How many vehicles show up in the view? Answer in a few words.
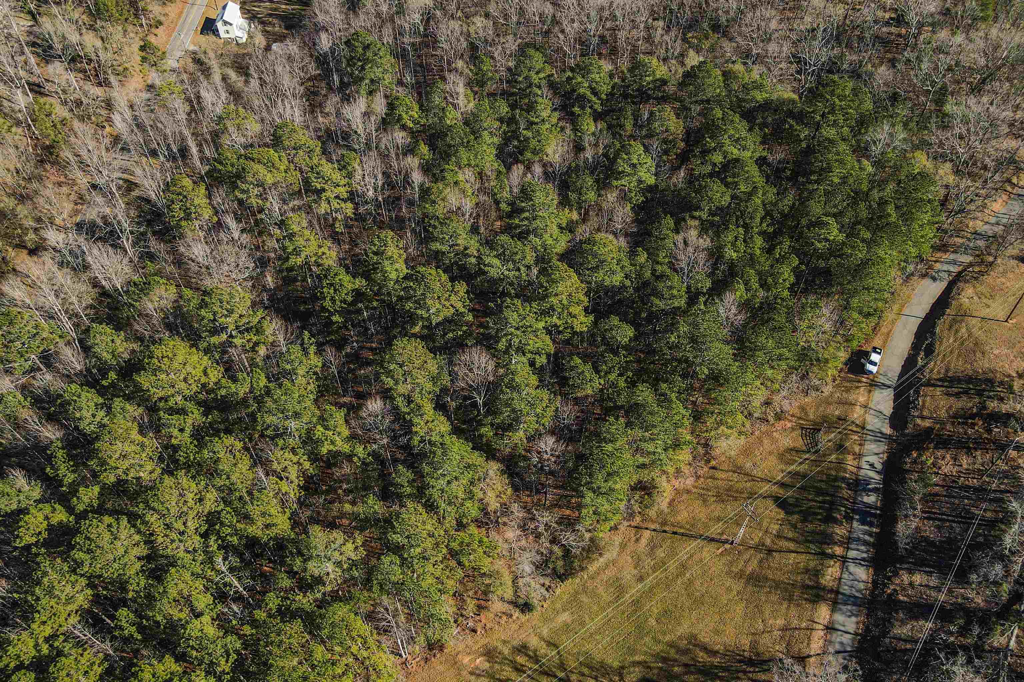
one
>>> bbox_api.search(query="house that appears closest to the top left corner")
[220,0,257,39]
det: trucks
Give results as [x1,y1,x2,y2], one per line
[860,347,881,375]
